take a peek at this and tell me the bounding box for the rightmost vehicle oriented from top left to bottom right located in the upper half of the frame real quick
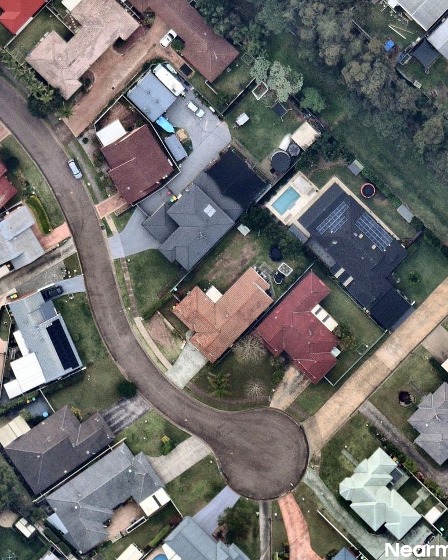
[187,100,204,117]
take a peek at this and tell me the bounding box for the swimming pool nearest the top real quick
[271,186,302,217]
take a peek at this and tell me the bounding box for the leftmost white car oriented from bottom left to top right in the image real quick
[159,29,176,49]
